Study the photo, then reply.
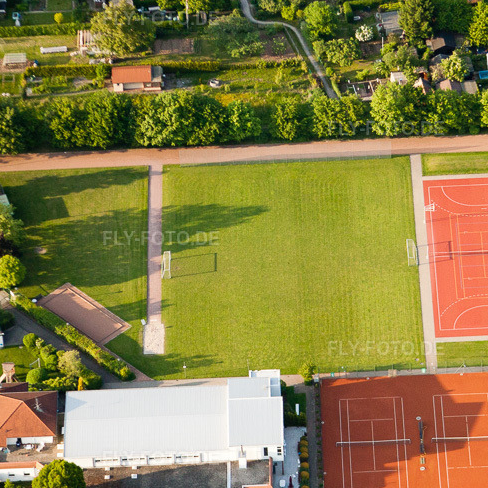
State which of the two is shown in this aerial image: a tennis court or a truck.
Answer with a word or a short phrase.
tennis court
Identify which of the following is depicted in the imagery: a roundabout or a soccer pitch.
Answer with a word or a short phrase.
soccer pitch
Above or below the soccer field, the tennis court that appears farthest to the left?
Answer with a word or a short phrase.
below it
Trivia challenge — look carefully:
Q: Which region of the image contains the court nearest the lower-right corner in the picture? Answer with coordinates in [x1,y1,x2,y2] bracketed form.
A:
[428,389,488,488]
